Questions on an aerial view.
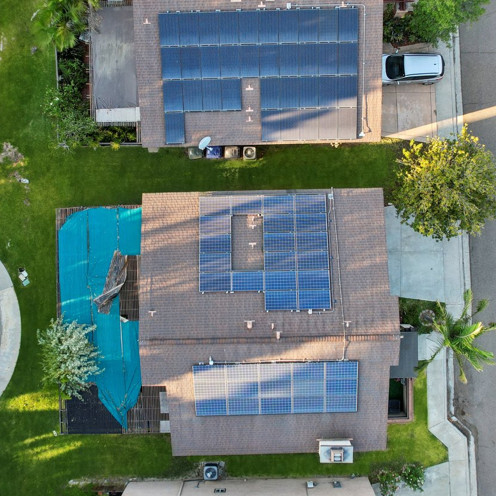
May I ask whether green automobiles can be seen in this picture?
No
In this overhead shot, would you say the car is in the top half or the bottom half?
top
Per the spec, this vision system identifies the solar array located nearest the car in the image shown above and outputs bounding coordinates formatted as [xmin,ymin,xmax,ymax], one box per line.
[157,1,365,144]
